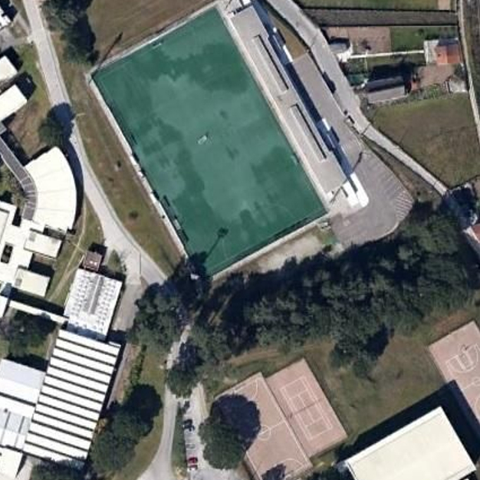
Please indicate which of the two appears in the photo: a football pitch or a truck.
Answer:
football pitch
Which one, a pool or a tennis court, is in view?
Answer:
tennis court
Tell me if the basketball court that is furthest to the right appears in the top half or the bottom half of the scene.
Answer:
bottom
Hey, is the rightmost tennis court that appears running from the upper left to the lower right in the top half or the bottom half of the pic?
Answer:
bottom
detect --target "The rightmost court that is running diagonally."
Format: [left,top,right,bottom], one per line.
[266,359,346,457]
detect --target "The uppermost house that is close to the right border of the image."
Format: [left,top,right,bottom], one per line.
[435,44,461,65]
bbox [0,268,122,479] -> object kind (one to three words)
building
